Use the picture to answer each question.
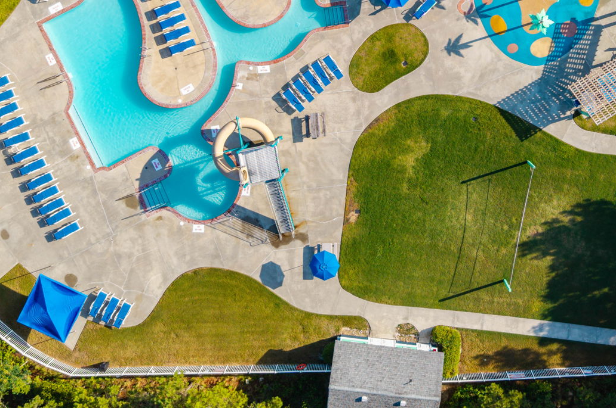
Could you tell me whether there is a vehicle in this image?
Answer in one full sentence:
No, the picture doesn't show any vehicle.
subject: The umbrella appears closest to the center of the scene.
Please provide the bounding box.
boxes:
[308,246,343,280]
